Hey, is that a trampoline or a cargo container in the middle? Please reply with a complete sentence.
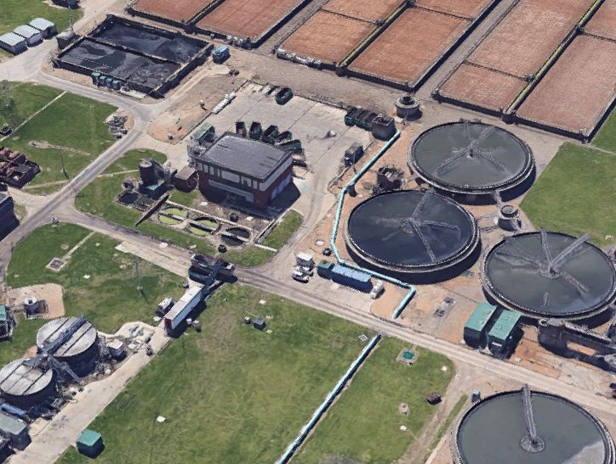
The one visible in the middle is a cargo container.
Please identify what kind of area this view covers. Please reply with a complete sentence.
The area seen from above is an industrial area.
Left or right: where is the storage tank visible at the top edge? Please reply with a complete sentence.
You can find the storage tank visible at the top edge on the left side of the picture.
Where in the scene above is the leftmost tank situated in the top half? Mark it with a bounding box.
[0,152,47,193]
